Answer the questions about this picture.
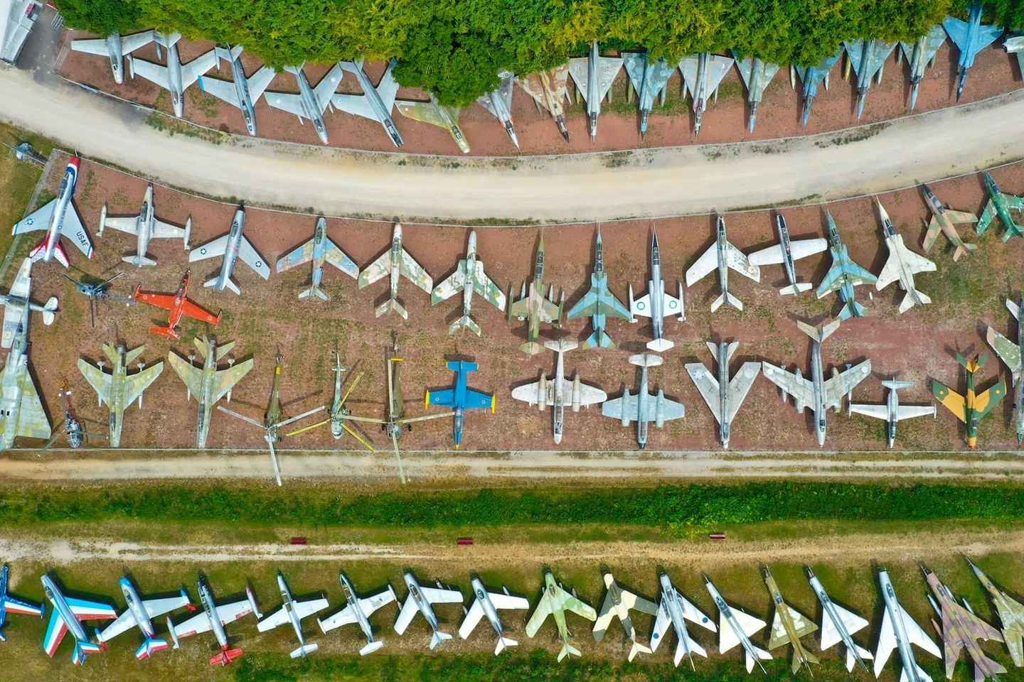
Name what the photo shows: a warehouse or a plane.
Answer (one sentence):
The image shows a plane.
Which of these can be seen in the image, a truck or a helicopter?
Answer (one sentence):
The image shows a helicopter.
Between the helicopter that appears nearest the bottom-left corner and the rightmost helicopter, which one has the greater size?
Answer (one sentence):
The helicopter that appears nearest the bottom-left corner is smaller than the rightmost helicopter.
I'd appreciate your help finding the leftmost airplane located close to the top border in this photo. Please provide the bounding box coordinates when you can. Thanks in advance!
[70,28,161,85]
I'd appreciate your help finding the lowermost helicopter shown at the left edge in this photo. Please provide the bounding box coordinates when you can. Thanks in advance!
[45,374,97,450]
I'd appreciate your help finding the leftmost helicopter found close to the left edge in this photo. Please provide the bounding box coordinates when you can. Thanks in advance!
[2,142,50,168]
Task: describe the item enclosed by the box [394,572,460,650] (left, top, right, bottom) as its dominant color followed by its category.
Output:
white airplane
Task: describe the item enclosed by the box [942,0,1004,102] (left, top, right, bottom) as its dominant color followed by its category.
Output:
blue airplane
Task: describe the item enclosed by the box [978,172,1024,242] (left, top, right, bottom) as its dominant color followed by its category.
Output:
green airplane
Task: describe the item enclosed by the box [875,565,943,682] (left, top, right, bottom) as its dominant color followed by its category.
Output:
white airplane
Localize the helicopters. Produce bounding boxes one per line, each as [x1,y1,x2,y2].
[45,374,97,450]
[2,142,50,168]
[288,348,377,451]
[220,352,326,485]
[65,273,133,327]
[341,343,455,483]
